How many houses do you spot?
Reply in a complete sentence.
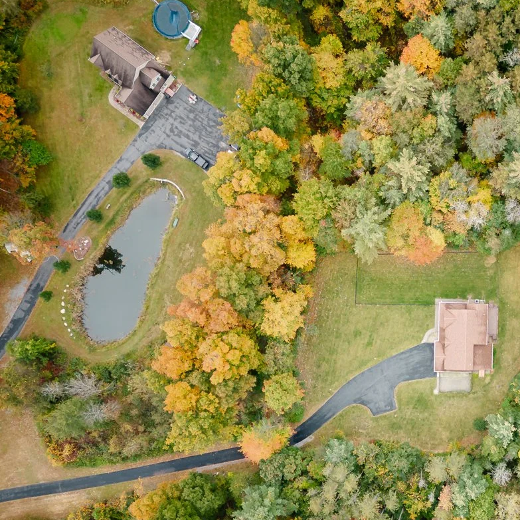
I count 2 houses.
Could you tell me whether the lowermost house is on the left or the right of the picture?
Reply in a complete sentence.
The lowermost house sits on the right side.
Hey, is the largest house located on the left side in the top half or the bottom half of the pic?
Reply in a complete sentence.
The largest house located on the left side is in the top half of the image.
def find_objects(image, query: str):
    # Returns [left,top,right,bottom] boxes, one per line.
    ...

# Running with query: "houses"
[88,26,179,119]
[434,301,494,372]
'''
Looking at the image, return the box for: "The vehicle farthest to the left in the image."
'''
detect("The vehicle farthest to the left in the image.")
[183,147,209,169]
